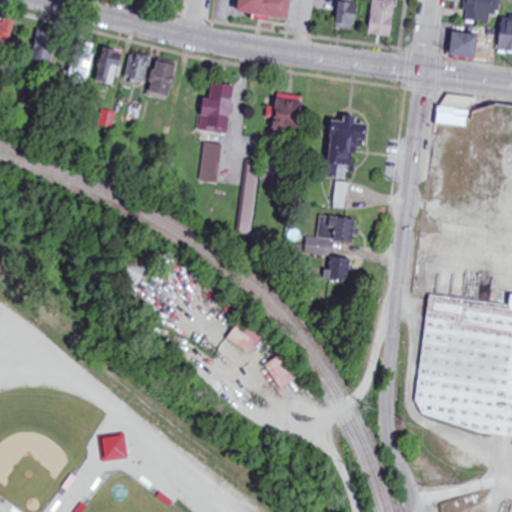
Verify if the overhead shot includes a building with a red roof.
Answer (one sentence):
Yes, the photo shows a building with a red roof.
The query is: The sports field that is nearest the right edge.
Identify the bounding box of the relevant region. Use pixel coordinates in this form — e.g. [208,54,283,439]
[84,471,174,512]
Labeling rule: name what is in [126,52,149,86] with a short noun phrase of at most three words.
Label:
house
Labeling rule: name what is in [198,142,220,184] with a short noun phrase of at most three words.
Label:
building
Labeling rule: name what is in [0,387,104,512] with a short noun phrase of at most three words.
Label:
baseball field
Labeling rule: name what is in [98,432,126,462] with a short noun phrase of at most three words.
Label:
building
